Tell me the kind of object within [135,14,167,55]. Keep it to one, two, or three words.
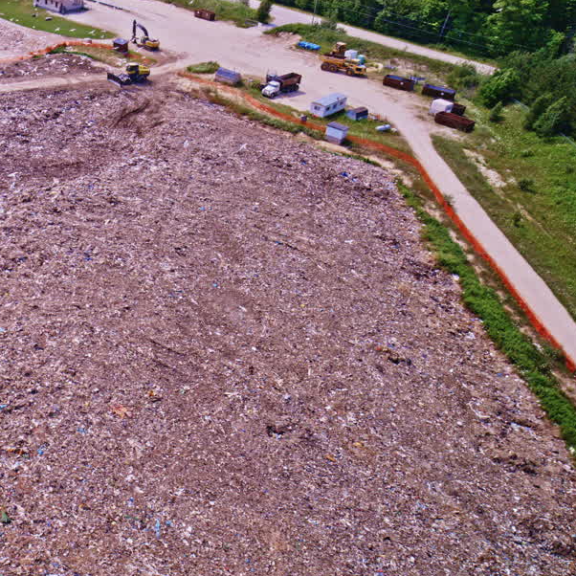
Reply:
work vehicle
